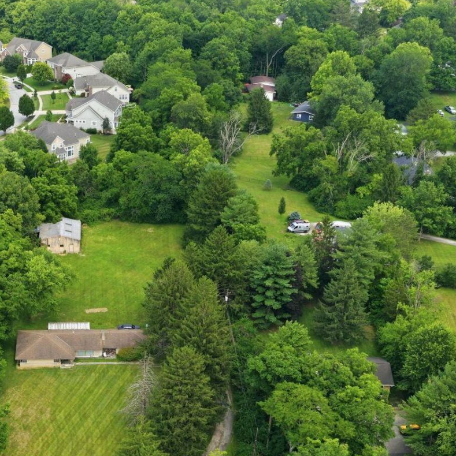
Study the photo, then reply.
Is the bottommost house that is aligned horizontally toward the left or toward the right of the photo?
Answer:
left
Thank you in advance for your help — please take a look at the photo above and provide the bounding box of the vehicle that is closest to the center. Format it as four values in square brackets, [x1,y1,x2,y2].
[287,219,312,232]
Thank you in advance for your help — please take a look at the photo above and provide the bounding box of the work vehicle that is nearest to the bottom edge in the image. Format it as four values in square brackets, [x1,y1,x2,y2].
[398,422,420,435]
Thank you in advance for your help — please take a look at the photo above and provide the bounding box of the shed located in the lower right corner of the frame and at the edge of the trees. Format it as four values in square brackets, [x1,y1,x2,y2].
[364,361,394,396]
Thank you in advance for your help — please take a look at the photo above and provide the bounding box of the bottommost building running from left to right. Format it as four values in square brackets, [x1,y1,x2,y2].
[12,327,148,375]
